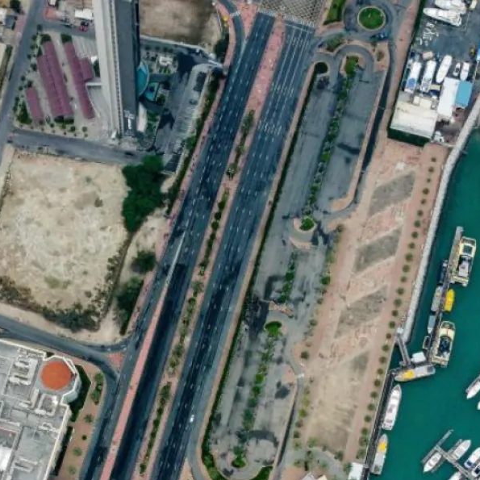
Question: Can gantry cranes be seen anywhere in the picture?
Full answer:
No, there isn't any gantry crane down there.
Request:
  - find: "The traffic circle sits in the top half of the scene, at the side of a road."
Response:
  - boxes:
[345,0,399,41]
